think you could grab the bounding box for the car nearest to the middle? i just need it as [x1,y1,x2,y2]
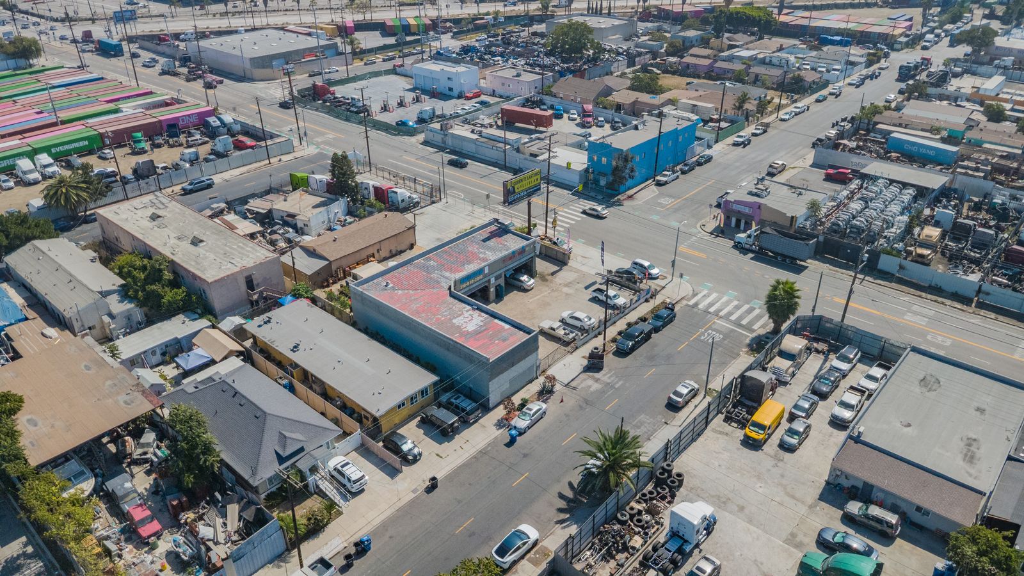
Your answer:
[502,271,537,290]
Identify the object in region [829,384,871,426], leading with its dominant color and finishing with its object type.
white truck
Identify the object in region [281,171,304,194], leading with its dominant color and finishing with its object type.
green truck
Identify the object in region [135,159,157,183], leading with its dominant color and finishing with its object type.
black truck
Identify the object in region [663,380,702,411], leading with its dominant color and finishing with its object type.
gray car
